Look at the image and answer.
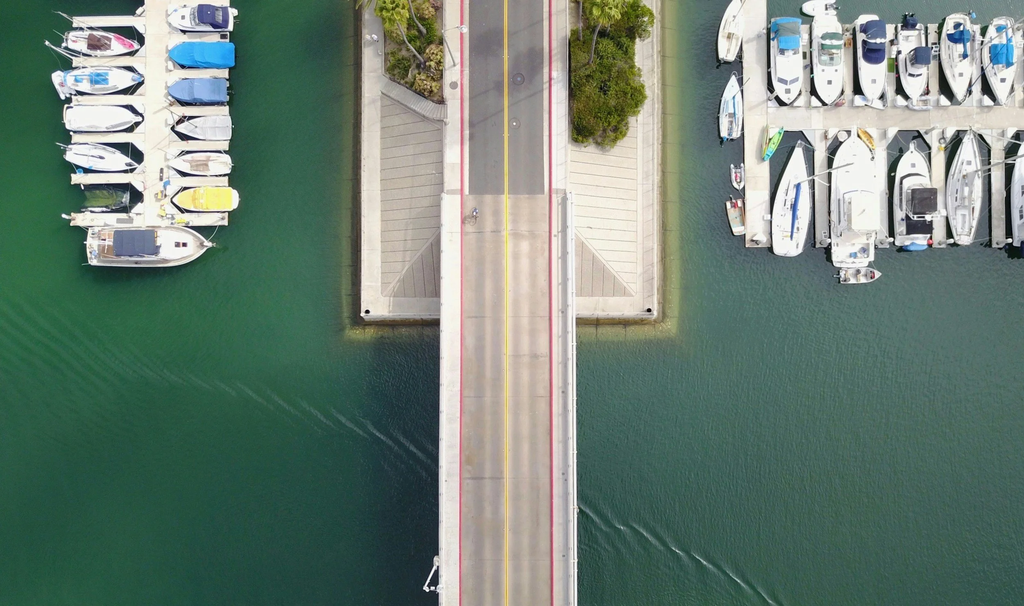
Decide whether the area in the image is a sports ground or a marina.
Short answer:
marina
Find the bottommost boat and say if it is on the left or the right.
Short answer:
right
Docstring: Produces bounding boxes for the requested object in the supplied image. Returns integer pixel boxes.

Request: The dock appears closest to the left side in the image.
[70,0,229,226]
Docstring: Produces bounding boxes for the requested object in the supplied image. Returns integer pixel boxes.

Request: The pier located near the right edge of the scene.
[743,0,1024,248]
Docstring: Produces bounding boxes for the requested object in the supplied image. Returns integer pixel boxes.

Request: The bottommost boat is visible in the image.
[837,262,881,284]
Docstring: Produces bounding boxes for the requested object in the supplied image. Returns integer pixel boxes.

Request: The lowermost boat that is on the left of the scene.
[81,225,219,267]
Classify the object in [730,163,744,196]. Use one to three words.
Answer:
boat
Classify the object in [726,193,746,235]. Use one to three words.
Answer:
boat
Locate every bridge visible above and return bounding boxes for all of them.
[437,192,580,606]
